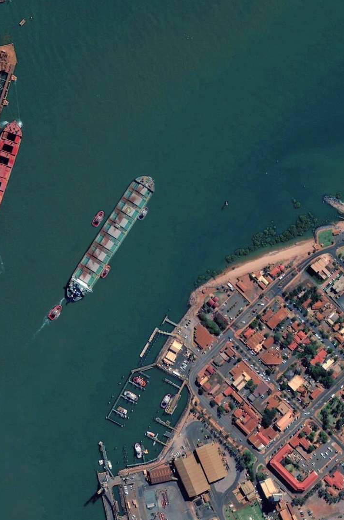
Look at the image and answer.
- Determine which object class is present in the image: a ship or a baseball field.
ship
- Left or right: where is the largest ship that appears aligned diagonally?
left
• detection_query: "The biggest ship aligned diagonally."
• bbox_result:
[61,173,150,305]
